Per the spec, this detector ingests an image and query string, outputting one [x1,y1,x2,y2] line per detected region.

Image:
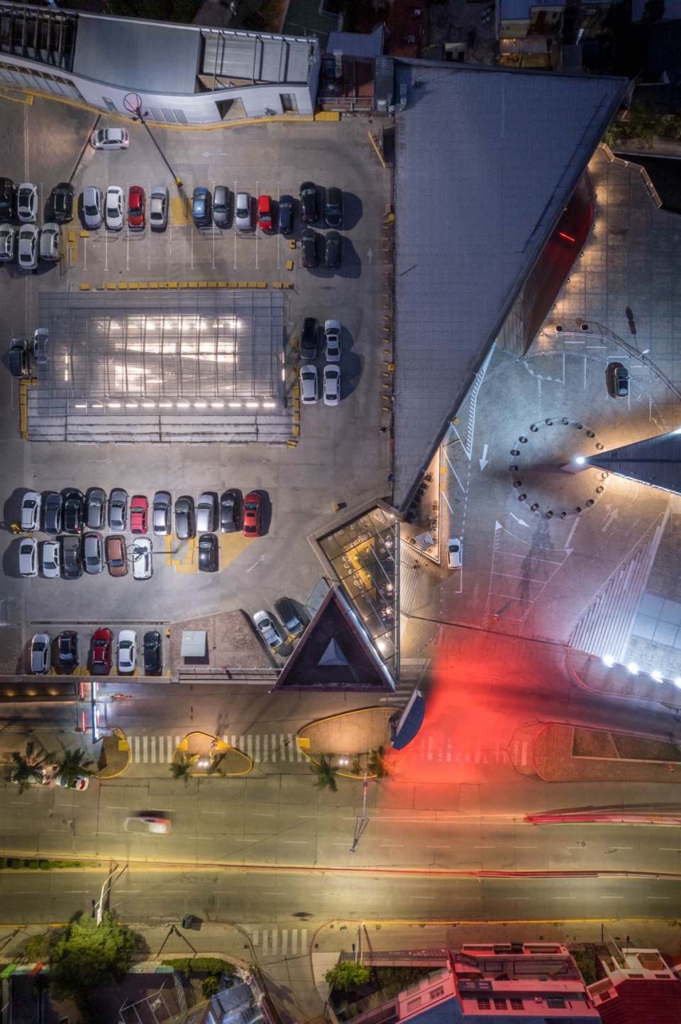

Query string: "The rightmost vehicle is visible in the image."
[609,363,629,400]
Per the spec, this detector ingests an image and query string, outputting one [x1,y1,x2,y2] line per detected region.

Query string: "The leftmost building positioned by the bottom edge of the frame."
[198,962,272,1024]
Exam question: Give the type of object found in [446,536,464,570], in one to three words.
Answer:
car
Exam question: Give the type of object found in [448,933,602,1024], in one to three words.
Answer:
building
